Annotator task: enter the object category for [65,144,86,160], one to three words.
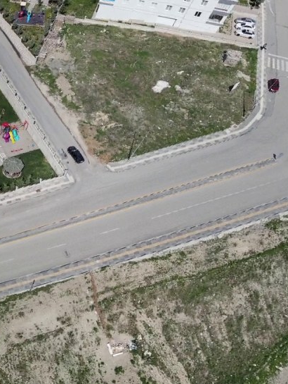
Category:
car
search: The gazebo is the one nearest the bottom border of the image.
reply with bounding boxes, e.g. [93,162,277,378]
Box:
[3,156,23,175]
